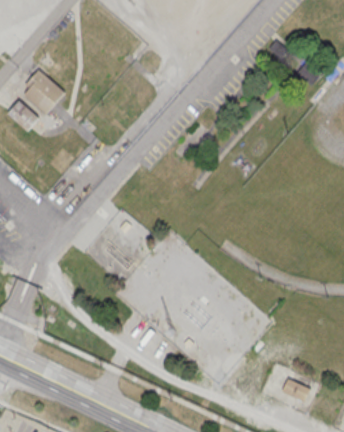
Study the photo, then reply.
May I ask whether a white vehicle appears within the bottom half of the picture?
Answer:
Yes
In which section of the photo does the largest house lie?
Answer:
top left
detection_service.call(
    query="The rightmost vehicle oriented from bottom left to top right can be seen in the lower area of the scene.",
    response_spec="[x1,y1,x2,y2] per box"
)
[153,340,168,359]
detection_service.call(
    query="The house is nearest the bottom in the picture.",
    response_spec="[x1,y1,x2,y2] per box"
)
[283,378,310,400]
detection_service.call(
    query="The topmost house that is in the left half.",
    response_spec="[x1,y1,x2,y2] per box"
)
[22,70,66,114]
